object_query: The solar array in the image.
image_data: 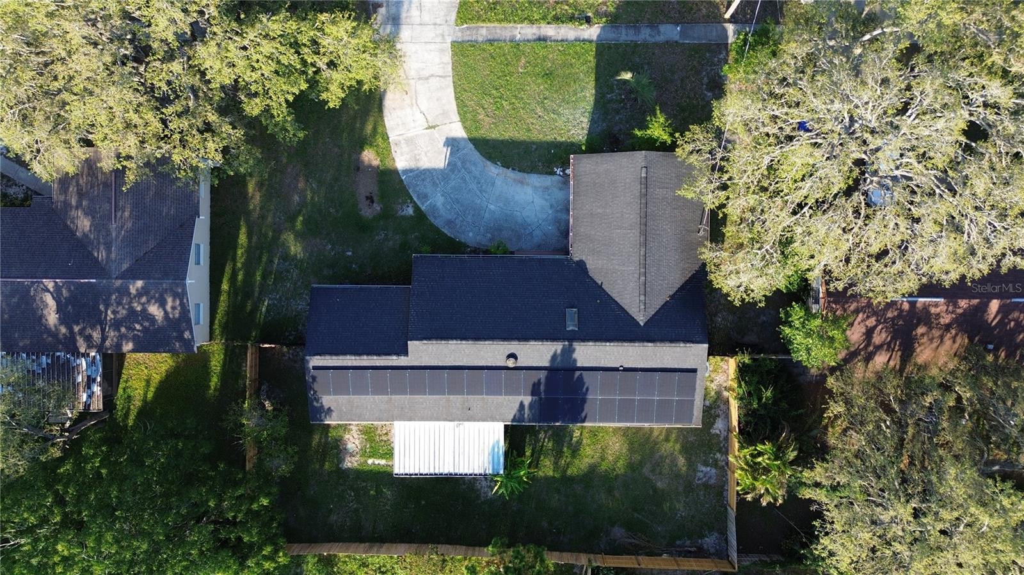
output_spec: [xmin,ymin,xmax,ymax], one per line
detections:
[312,371,697,425]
